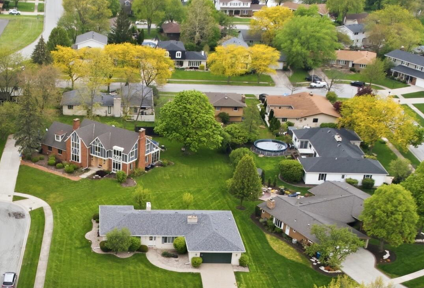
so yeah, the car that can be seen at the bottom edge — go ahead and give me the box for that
[1,273,17,288]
